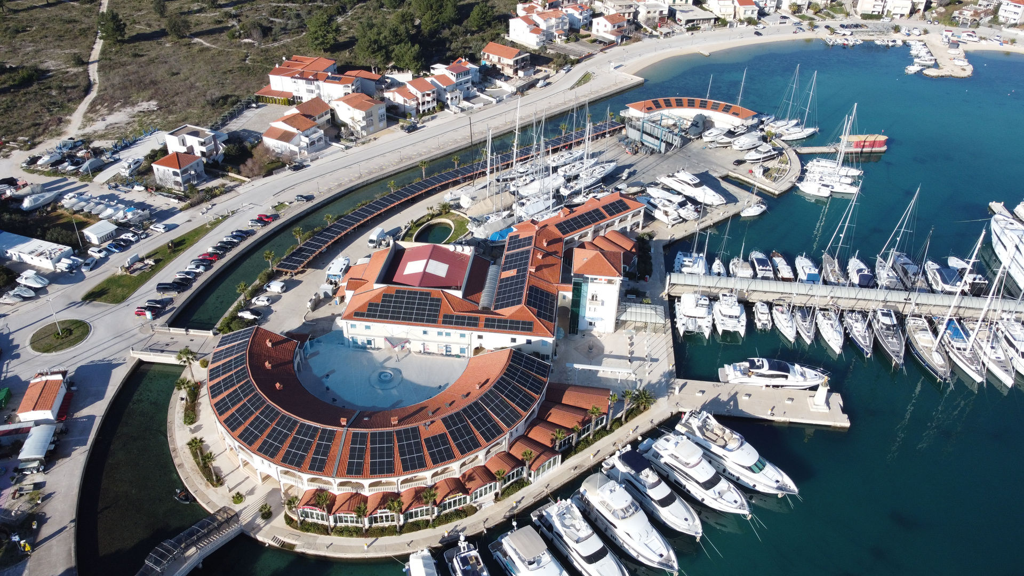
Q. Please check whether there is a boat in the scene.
Yes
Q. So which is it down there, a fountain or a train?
fountain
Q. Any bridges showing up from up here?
Yes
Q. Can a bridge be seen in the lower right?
No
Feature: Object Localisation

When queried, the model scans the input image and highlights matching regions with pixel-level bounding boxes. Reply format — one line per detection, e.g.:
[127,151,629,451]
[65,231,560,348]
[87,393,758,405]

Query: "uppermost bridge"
[126,323,222,366]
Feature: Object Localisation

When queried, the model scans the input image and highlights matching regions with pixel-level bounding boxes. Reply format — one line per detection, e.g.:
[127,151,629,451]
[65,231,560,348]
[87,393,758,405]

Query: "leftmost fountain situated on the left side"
[366,364,405,389]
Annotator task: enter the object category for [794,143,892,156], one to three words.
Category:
pier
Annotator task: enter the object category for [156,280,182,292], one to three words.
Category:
vehicle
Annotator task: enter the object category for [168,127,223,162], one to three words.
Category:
house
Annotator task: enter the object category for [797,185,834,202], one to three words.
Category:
boat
